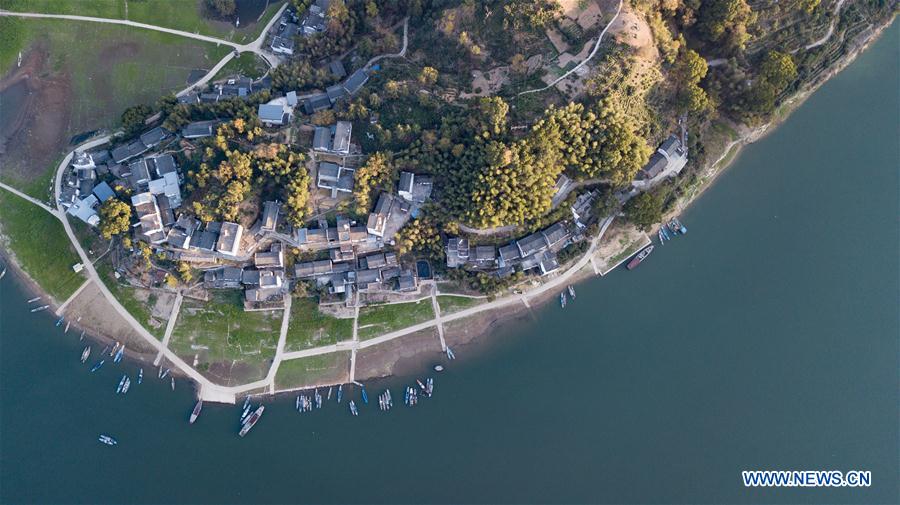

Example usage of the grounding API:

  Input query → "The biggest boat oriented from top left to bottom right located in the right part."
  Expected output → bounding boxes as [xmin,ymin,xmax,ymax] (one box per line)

[668,218,686,233]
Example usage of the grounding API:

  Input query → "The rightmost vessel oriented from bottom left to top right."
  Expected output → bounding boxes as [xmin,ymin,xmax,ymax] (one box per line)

[627,247,655,269]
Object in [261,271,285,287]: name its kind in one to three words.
house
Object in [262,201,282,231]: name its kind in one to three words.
house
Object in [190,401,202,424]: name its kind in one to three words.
vessel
